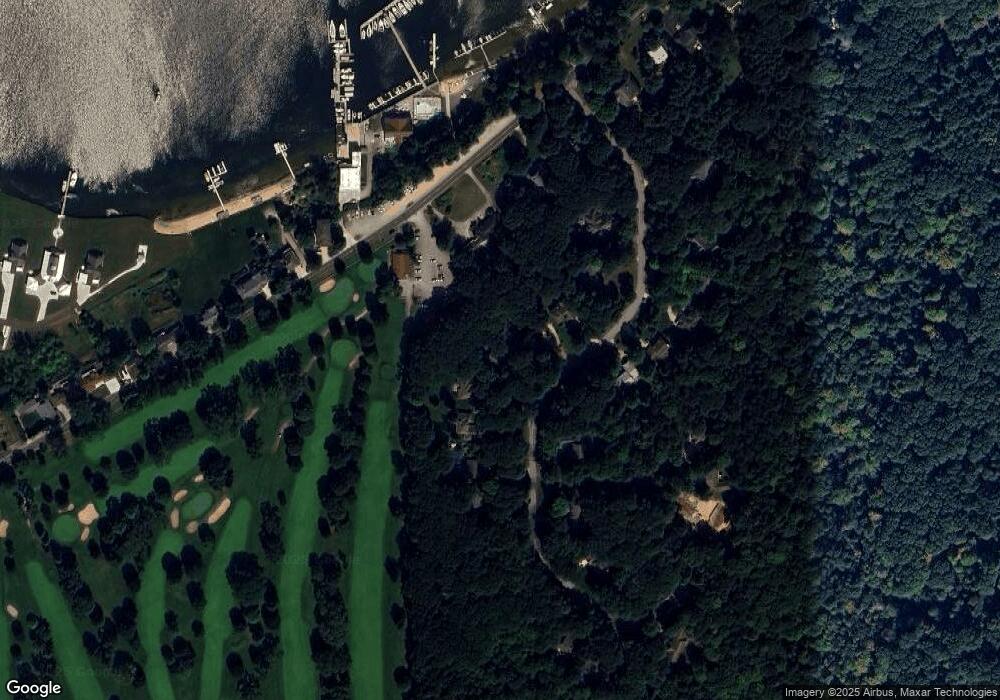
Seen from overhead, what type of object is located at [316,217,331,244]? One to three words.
house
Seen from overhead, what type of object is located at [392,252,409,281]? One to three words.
building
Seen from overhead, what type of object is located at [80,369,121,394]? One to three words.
house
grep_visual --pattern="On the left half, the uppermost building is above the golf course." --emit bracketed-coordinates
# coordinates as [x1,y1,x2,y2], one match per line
[383,114,412,144]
